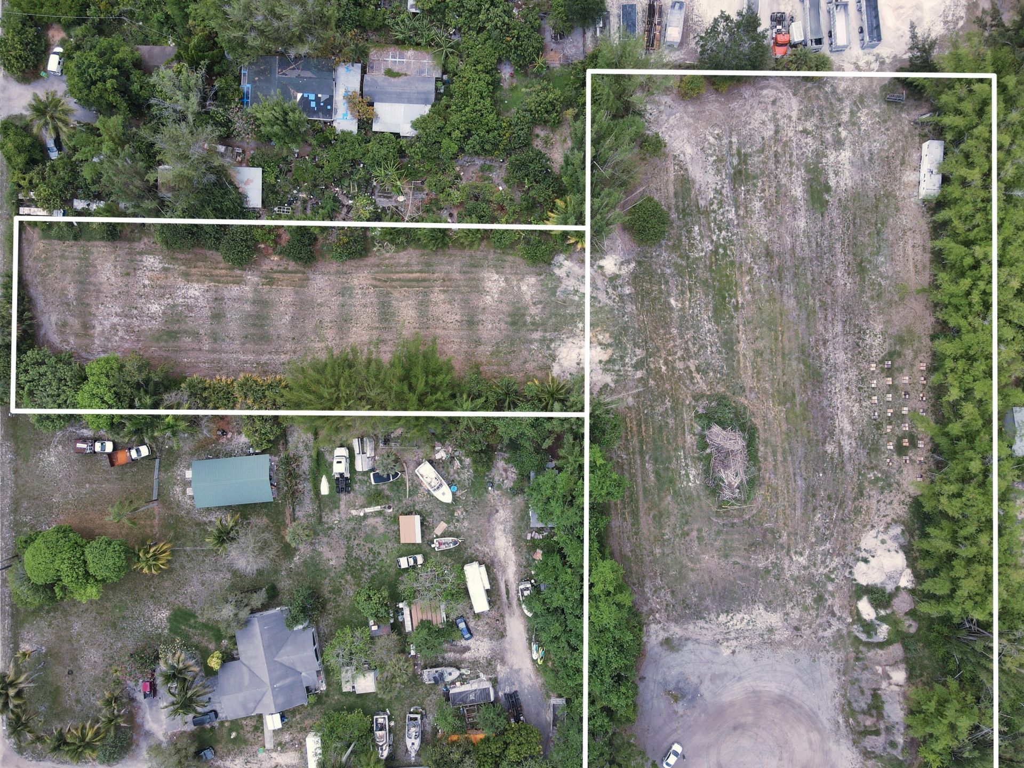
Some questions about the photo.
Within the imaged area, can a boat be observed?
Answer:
Yes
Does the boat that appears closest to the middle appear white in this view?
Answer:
Yes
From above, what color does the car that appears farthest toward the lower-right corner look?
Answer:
white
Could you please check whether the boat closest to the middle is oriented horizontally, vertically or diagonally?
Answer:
diagonally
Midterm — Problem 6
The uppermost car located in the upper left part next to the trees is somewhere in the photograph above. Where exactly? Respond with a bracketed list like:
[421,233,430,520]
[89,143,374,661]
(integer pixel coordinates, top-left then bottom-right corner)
[46,47,66,78]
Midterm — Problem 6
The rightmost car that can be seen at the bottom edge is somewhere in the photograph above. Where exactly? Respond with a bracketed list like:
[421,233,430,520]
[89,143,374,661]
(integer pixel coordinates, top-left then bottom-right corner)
[659,740,681,768]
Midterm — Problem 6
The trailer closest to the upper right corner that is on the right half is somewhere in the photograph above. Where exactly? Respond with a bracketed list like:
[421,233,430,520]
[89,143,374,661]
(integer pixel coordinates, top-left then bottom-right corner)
[859,0,883,48]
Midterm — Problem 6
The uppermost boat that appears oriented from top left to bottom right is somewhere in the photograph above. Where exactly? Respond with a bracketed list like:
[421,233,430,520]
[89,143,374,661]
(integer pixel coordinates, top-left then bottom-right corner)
[415,461,454,505]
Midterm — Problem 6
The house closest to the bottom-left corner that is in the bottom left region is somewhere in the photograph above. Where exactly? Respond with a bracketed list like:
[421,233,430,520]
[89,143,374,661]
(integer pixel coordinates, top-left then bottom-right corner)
[218,607,327,719]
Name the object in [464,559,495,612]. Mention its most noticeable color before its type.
white vehicle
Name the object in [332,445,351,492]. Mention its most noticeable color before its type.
white vehicle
